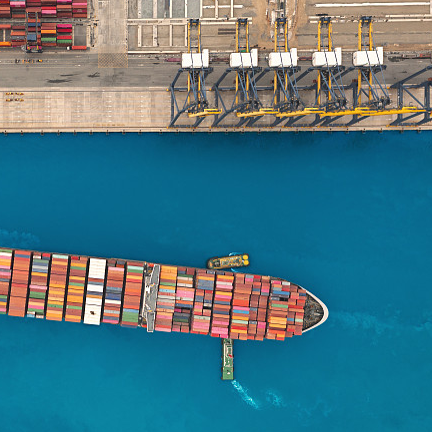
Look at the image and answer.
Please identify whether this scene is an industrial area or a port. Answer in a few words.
port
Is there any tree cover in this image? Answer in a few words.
No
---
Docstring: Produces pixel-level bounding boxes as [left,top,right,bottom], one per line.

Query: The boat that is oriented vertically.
[221,337,234,380]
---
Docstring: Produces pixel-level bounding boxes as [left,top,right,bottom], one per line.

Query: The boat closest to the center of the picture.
[207,252,250,269]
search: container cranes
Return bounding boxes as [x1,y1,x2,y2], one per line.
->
[241,16,327,128]
[25,11,42,54]
[206,16,281,128]
[383,52,432,127]
[279,16,377,128]
[314,16,423,127]
[165,16,226,128]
